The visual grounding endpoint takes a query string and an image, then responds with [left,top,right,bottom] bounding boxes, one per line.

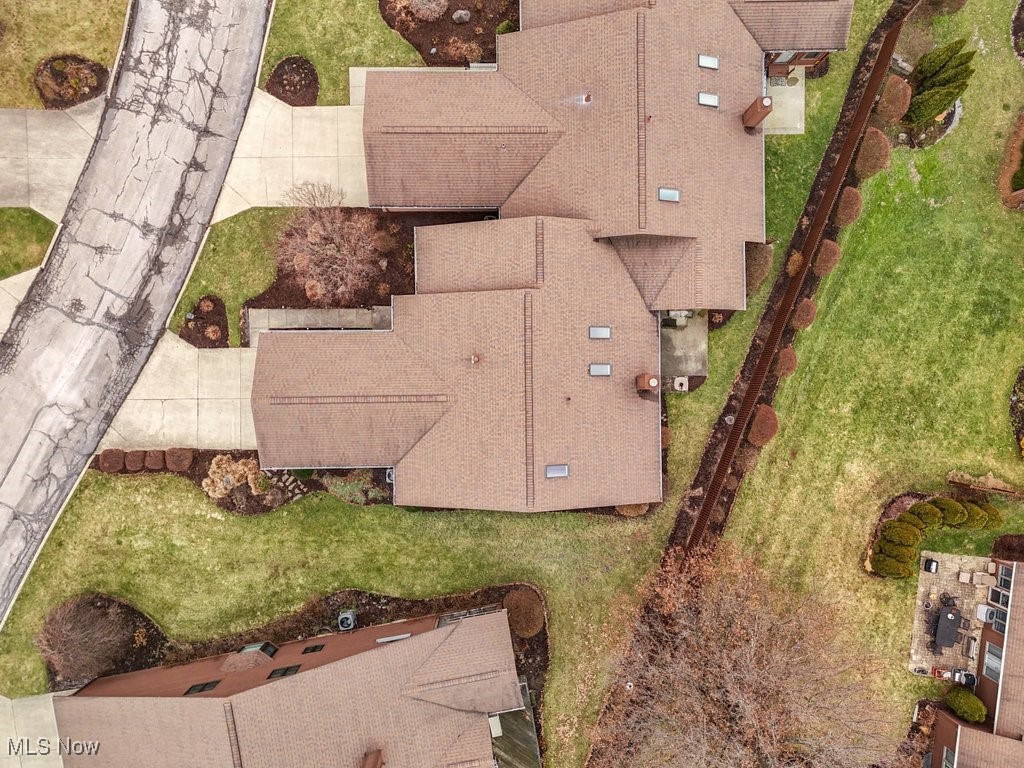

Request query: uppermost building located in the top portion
[363,0,856,308]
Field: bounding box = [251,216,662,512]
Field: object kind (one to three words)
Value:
house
